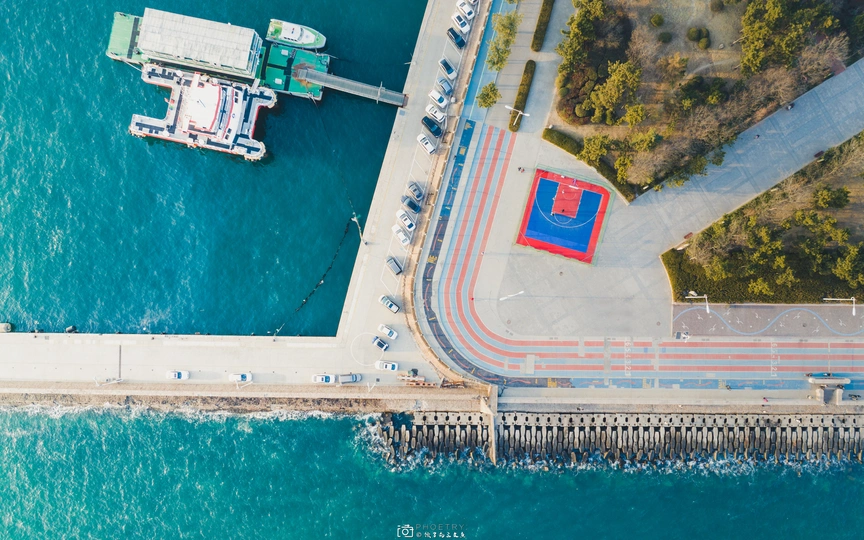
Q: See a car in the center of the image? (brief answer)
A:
Yes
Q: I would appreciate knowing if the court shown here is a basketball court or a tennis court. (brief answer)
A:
basketball court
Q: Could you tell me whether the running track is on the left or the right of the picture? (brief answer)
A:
right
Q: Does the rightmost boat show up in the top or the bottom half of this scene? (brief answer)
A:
top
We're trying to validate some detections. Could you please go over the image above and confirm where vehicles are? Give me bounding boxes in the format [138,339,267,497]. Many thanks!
[436,75,454,94]
[391,224,410,245]
[407,180,424,201]
[229,373,251,383]
[451,11,471,32]
[446,26,466,48]
[370,336,390,353]
[377,323,398,340]
[338,375,362,384]
[384,256,404,277]
[429,88,449,108]
[456,0,476,19]
[416,133,435,154]
[426,103,445,122]
[422,116,442,137]
[312,375,334,384]
[379,295,399,314]
[396,210,415,230]
[401,194,421,214]
[166,370,189,381]
[438,57,457,79]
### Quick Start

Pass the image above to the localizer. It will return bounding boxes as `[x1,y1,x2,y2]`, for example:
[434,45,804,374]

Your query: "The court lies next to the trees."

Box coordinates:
[516,168,608,265]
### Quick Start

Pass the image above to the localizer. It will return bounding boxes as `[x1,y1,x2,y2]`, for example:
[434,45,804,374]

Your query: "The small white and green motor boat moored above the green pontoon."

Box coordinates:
[266,19,326,50]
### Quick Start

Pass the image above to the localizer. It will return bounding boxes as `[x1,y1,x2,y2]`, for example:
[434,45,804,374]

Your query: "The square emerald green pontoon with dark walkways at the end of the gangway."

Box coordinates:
[265,43,335,108]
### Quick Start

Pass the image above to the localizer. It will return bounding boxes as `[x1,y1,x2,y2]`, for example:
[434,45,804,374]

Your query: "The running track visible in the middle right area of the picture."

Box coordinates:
[440,123,864,378]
